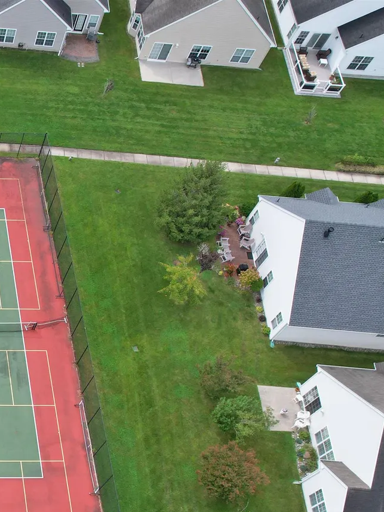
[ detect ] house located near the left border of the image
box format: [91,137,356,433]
[0,0,112,54]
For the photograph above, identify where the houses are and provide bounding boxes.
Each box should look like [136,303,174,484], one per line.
[247,171,384,349]
[294,364,384,512]
[275,0,384,83]
[0,0,112,54]
[125,0,279,69]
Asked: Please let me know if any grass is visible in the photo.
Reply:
Yes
